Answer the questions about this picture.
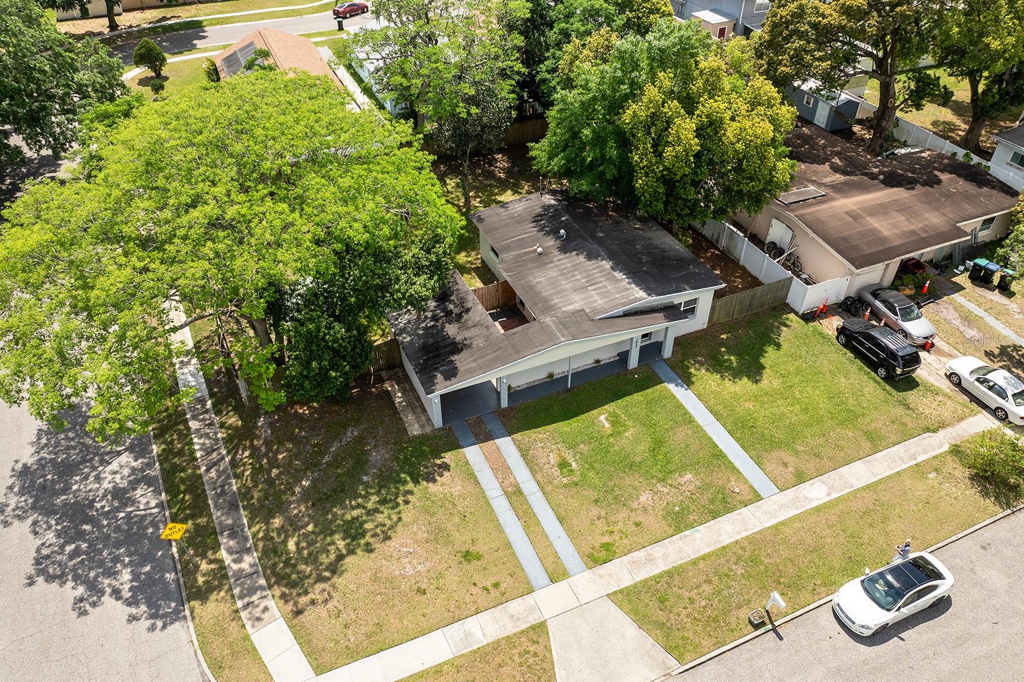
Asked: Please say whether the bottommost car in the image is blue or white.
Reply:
white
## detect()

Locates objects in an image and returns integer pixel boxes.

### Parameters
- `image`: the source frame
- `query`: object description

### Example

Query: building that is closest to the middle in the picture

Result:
[375,174,728,429]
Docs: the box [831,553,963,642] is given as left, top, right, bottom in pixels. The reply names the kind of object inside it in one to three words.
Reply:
car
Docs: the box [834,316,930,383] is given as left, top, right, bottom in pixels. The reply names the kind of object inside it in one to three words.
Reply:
car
